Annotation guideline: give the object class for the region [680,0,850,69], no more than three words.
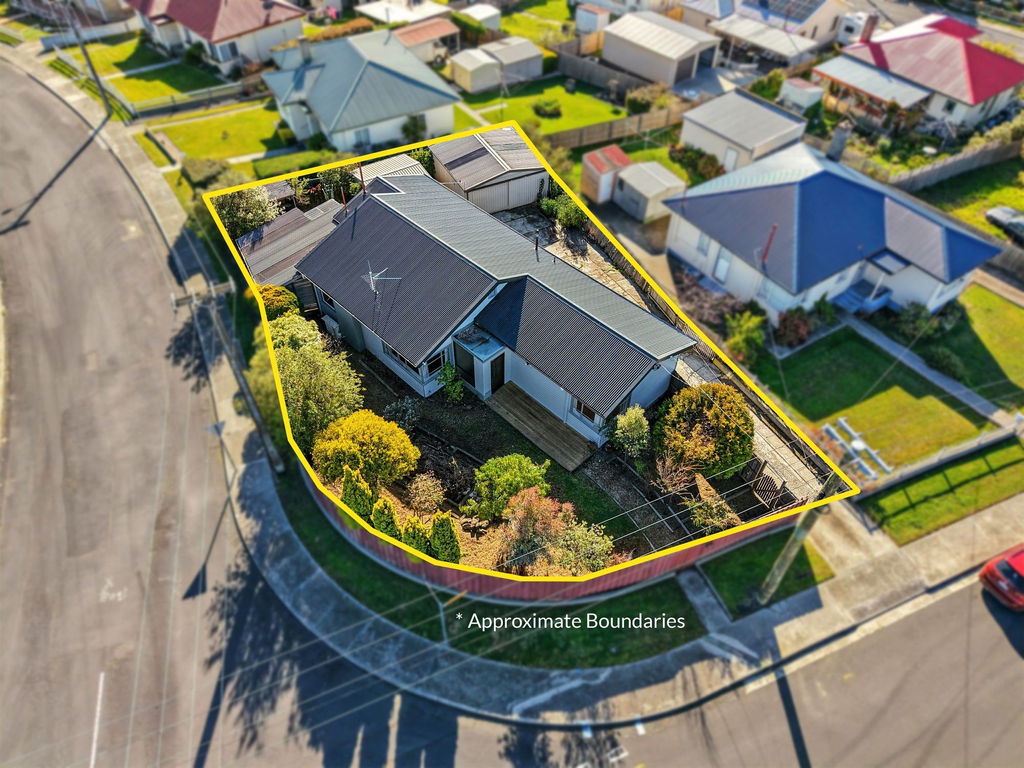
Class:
house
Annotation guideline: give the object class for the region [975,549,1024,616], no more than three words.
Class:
car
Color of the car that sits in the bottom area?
red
